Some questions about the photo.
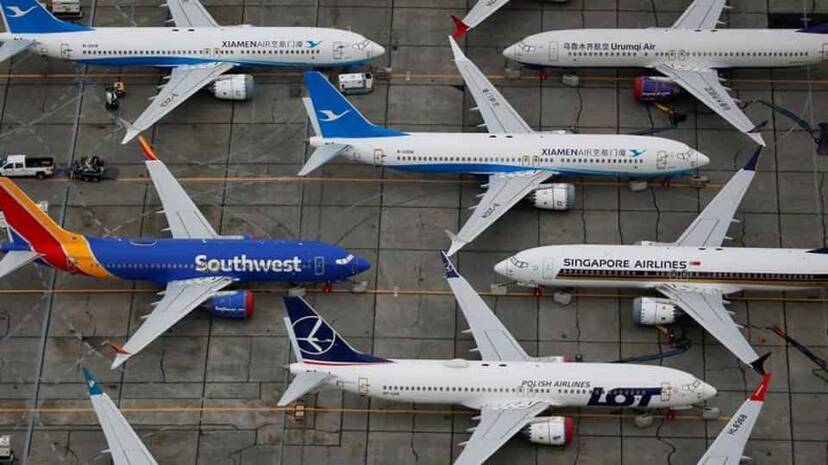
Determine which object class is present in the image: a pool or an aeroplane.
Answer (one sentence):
Of the two, only an aeroplane appears.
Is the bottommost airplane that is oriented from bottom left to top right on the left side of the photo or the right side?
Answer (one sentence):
It is on the right.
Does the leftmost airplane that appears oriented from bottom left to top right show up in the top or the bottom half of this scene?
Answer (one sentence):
The leftmost airplane that appears oriented from bottom left to top right is in the top half of the image.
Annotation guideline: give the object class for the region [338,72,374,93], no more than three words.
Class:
vehicle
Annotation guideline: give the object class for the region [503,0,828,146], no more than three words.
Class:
airplane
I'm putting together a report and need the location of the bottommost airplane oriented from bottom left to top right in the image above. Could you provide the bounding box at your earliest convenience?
[698,374,771,465]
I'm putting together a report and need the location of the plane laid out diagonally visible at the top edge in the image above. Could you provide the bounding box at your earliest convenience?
[446,0,501,37]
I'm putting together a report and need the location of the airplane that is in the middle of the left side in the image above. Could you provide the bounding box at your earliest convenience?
[0,136,370,367]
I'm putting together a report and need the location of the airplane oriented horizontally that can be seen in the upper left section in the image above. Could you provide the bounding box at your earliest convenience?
[0,0,385,142]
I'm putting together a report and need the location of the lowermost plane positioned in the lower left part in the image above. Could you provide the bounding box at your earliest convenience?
[83,367,155,465]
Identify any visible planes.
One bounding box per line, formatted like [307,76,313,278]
[0,136,370,367]
[698,374,771,465]
[83,367,155,465]
[503,0,828,146]
[276,251,717,465]
[298,35,710,254]
[446,0,501,37]
[494,143,828,376]
[0,0,385,142]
